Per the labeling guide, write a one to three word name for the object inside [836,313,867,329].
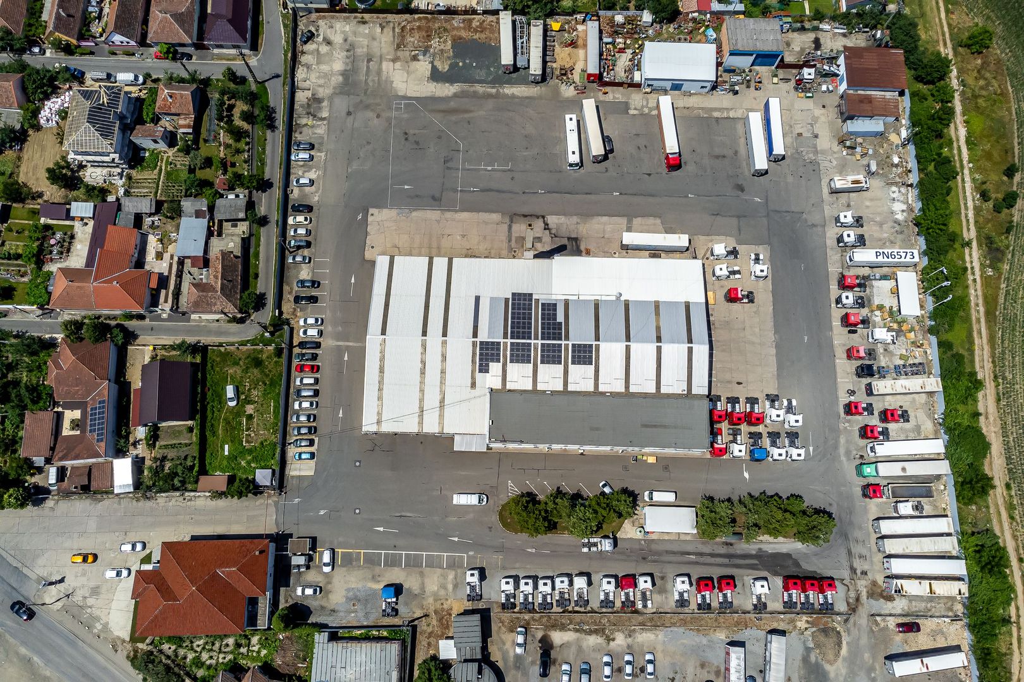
vehicle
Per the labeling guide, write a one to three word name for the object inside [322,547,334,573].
vehicle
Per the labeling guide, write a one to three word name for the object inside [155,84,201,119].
house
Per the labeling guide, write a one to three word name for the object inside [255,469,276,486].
gazebo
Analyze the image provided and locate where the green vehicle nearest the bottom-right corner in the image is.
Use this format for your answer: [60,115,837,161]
[851,462,882,478]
